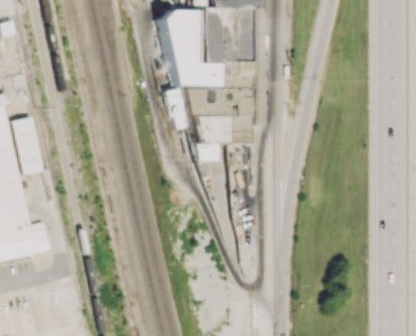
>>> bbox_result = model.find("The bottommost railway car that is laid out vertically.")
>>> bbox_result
[88,296,104,336]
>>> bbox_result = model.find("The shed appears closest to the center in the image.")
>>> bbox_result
[195,144,222,162]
